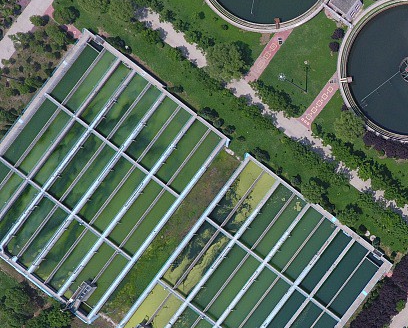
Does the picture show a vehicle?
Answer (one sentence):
No, there's no vehicle here.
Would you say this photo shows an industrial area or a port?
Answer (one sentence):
This looks like an industrial area.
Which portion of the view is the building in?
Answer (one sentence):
The building is located in the top right region of the scene.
